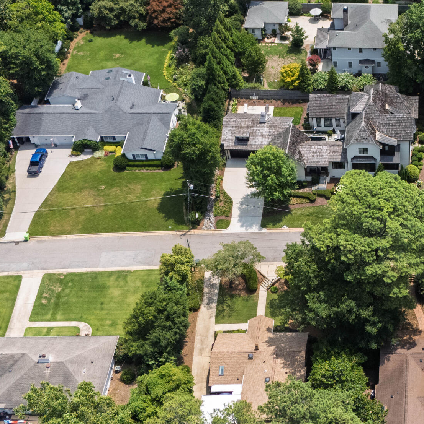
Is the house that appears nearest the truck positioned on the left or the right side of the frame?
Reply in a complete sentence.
It is on the left.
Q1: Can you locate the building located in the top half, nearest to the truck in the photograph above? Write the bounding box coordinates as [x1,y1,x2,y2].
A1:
[12,66,177,162]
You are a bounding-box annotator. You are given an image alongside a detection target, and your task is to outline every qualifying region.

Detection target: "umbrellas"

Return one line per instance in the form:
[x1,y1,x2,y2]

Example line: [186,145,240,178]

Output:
[165,93,179,103]
[308,8,323,16]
